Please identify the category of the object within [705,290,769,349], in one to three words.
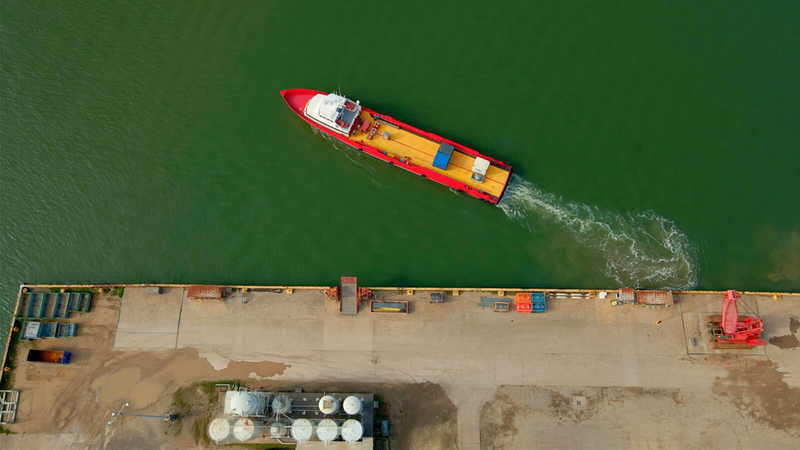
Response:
crane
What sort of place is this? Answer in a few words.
port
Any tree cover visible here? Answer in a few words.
No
